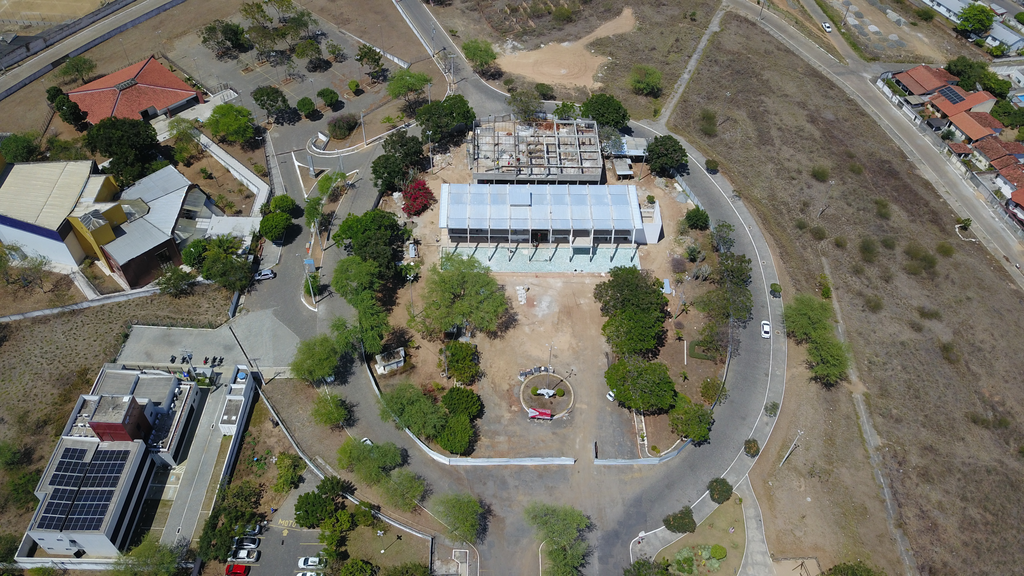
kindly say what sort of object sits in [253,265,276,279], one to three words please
car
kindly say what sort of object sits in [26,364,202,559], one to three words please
building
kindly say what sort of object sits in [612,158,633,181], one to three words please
shed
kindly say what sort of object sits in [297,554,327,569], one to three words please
car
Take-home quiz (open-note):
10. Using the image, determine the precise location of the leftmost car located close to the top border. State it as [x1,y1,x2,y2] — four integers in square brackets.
[821,19,834,31]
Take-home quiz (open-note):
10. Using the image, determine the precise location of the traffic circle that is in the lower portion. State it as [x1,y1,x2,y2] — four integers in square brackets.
[521,373,574,419]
